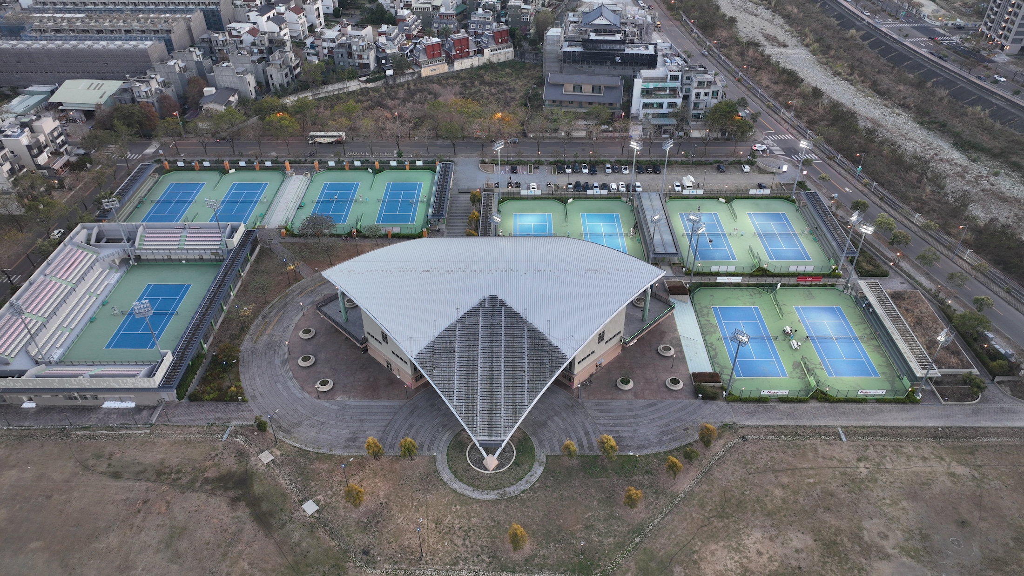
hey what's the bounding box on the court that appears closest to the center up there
[498,199,569,237]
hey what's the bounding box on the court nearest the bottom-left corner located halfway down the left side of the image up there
[59,258,227,362]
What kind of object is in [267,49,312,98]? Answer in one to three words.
house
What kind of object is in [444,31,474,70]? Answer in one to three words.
house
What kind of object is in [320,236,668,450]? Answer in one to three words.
building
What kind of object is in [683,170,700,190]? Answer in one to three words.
vehicle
